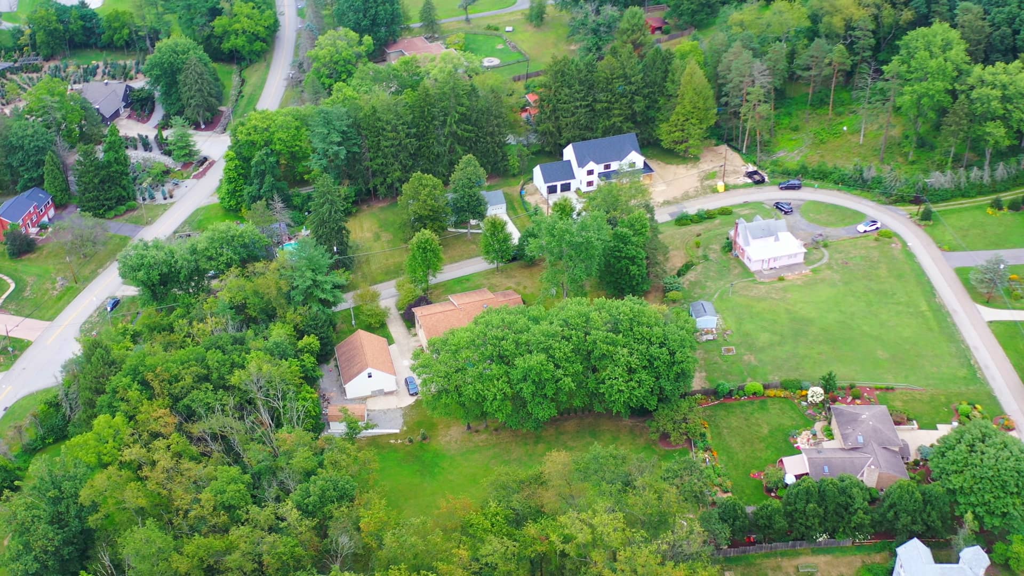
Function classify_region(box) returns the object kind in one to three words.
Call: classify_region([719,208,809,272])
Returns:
house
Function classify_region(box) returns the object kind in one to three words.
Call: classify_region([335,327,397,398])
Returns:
building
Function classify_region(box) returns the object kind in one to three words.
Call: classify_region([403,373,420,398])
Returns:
car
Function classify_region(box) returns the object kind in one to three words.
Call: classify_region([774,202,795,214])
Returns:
vehicle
